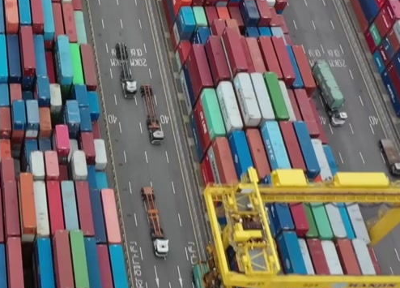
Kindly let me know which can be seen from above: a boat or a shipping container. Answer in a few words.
shipping container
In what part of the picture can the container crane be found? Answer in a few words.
bottom right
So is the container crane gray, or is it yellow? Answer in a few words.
yellow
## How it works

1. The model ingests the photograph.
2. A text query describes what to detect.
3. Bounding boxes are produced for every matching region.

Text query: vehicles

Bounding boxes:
[323,92,348,125]
[145,189,173,257]
[116,44,139,97]
[142,86,166,144]
[381,134,400,174]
